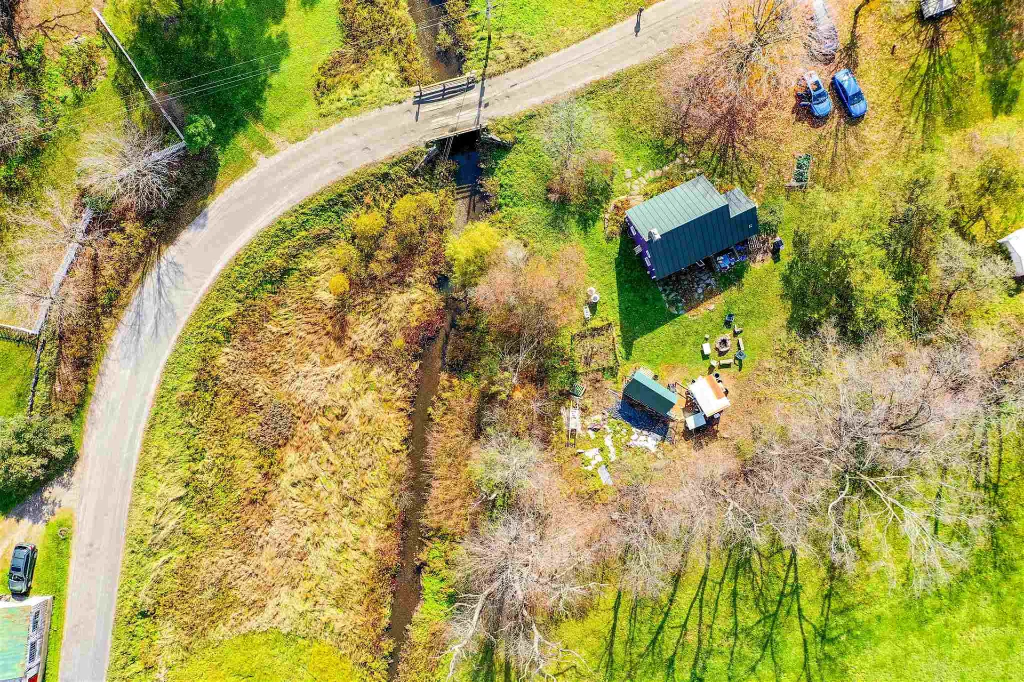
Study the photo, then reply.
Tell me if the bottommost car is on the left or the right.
left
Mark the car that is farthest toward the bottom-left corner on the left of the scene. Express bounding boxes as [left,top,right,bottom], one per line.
[6,542,39,596]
